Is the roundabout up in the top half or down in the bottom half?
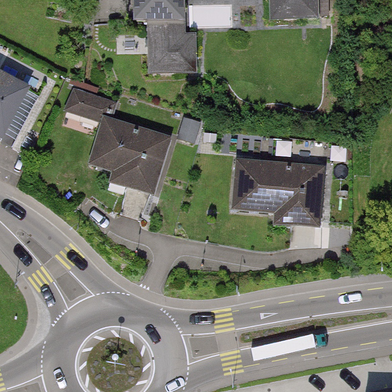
bottom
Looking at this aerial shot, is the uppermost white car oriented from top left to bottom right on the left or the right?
left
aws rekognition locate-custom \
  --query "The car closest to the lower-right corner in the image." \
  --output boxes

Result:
[338,366,362,390]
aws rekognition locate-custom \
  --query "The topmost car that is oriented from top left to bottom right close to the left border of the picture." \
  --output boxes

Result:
[0,198,26,220]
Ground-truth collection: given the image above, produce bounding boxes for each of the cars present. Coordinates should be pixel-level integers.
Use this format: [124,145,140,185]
[144,322,162,344]
[307,372,326,392]
[190,312,214,324]
[40,282,55,307]
[88,207,109,227]
[338,366,362,390]
[163,376,185,392]
[64,248,88,270]
[338,292,362,304]
[53,366,66,389]
[12,242,33,266]
[0,198,26,220]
